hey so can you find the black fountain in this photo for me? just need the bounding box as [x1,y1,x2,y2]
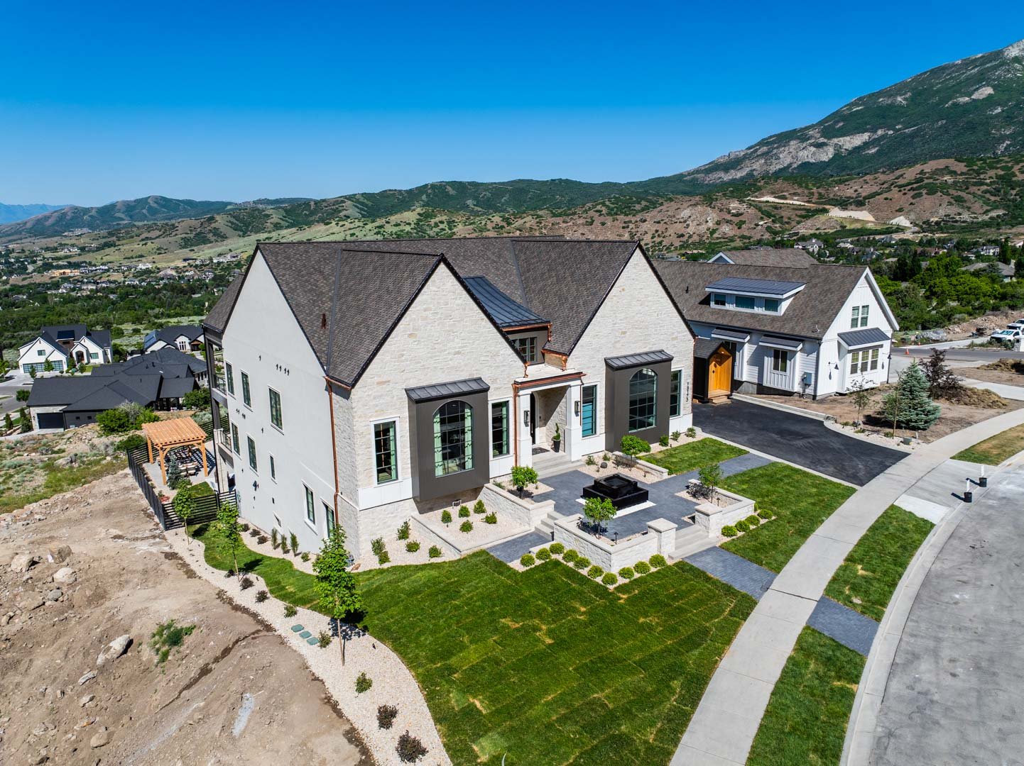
[568,473,663,518]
